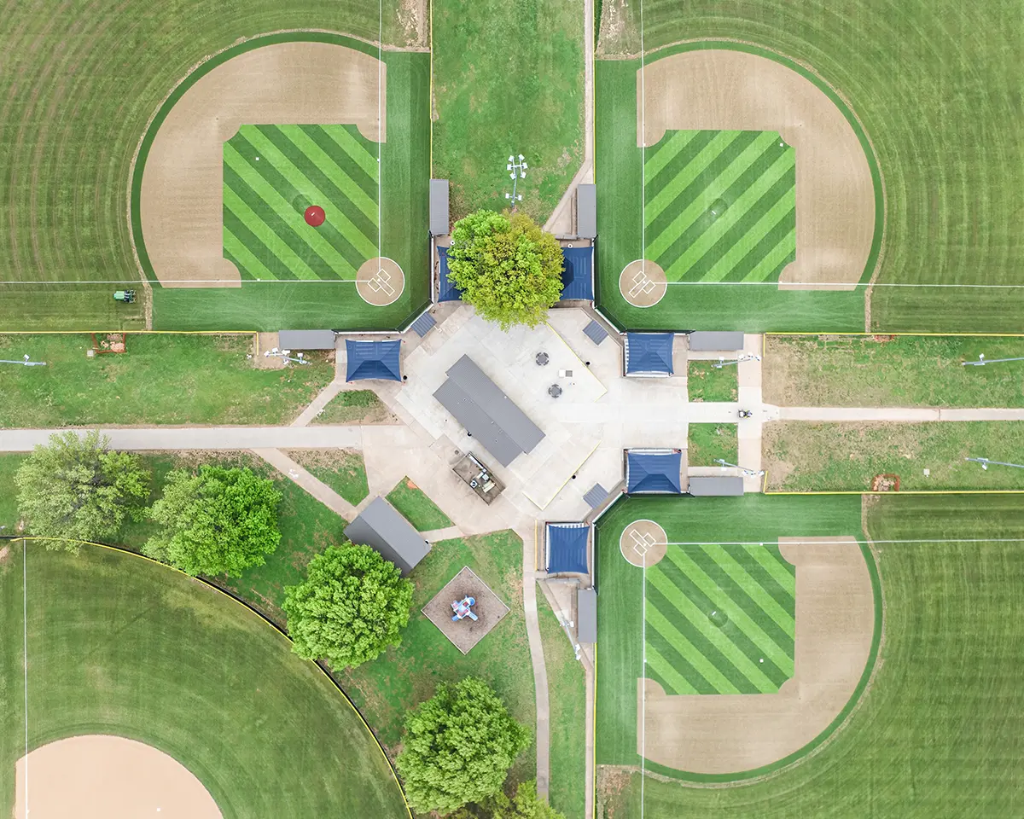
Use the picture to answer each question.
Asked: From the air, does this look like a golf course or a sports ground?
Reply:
sports ground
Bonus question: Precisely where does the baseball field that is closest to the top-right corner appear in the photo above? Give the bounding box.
[596,0,1024,334]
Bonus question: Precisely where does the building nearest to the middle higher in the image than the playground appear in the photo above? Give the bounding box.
[433,354,546,467]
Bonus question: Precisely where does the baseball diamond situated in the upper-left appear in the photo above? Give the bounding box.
[0,0,430,332]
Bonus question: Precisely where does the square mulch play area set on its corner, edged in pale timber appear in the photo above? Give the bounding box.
[421,567,509,655]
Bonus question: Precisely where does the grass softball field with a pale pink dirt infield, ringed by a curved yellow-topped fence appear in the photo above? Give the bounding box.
[0,538,407,819]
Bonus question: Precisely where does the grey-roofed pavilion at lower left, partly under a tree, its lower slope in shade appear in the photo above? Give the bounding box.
[344,497,431,579]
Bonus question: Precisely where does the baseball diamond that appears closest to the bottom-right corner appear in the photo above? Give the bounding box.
[596,494,1024,819]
